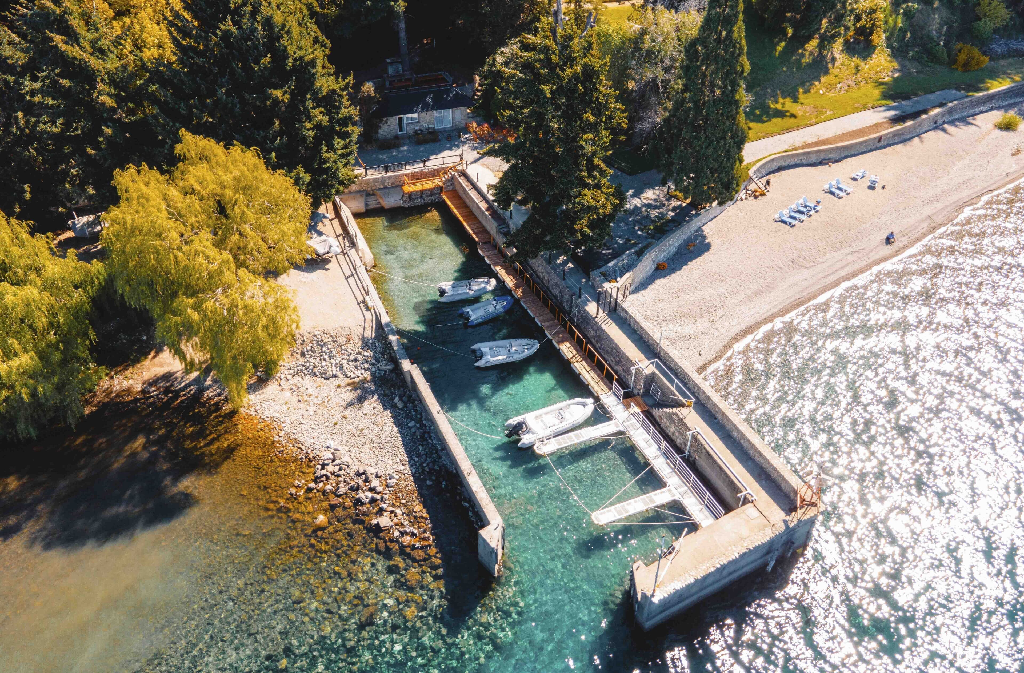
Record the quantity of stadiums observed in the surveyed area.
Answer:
0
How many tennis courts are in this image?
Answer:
zero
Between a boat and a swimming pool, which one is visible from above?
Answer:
boat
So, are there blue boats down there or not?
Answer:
Yes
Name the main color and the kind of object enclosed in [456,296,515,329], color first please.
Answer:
blue boat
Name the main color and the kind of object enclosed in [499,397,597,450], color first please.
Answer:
white boat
